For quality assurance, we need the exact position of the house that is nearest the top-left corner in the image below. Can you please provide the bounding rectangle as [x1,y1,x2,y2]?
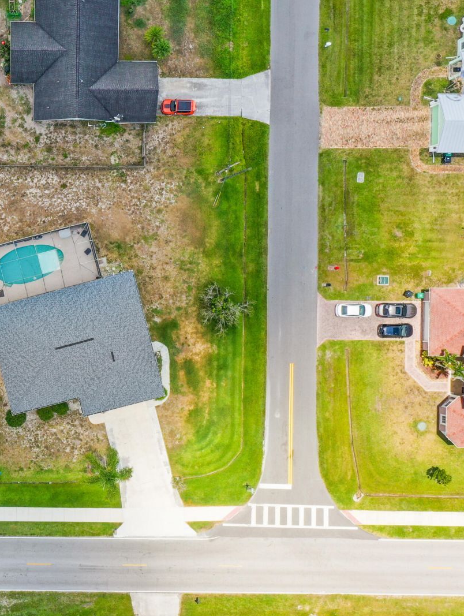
[11,0,160,123]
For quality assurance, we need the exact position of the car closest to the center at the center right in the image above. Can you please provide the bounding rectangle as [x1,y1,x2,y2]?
[333,302,371,319]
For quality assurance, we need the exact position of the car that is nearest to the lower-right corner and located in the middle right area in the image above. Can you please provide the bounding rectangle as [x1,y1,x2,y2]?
[375,323,412,340]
